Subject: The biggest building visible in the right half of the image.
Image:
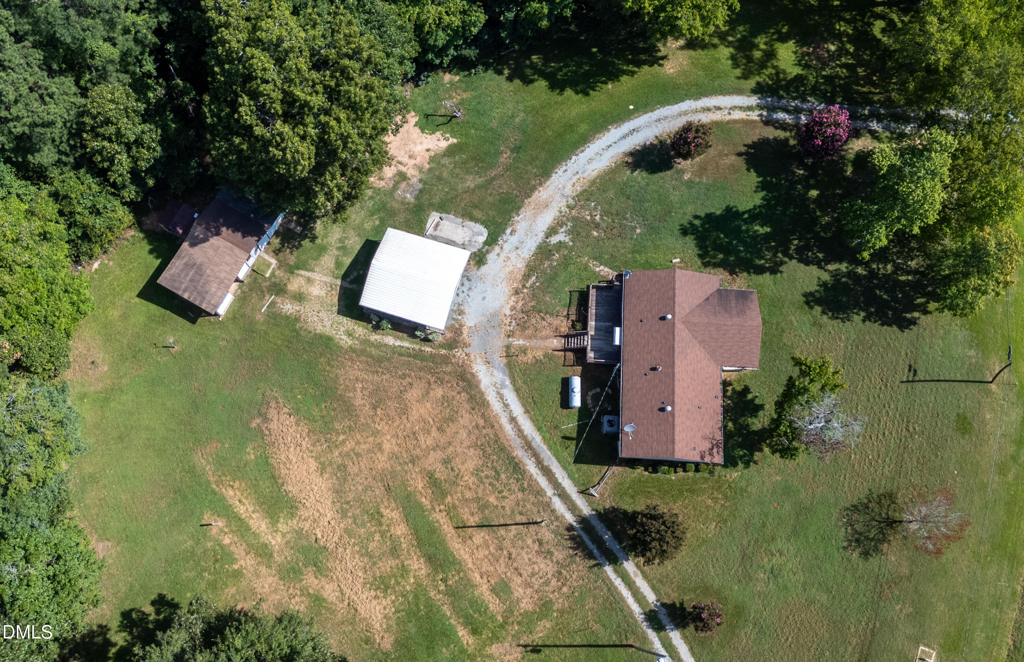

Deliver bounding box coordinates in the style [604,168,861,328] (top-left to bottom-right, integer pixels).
[612,269,763,465]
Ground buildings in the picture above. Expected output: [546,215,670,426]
[612,269,763,465]
[358,227,472,334]
[157,175,297,320]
